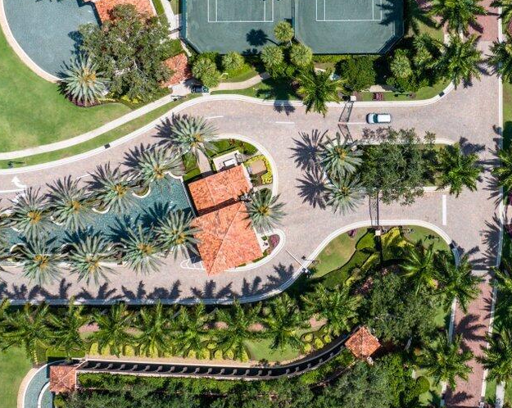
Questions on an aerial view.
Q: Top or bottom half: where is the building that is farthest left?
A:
bottom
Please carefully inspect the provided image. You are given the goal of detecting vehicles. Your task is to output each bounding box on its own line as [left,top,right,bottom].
[193,85,208,93]
[366,112,392,125]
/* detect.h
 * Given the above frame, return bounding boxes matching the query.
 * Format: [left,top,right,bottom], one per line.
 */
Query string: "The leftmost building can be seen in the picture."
[49,361,84,393]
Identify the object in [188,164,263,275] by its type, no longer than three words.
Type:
building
